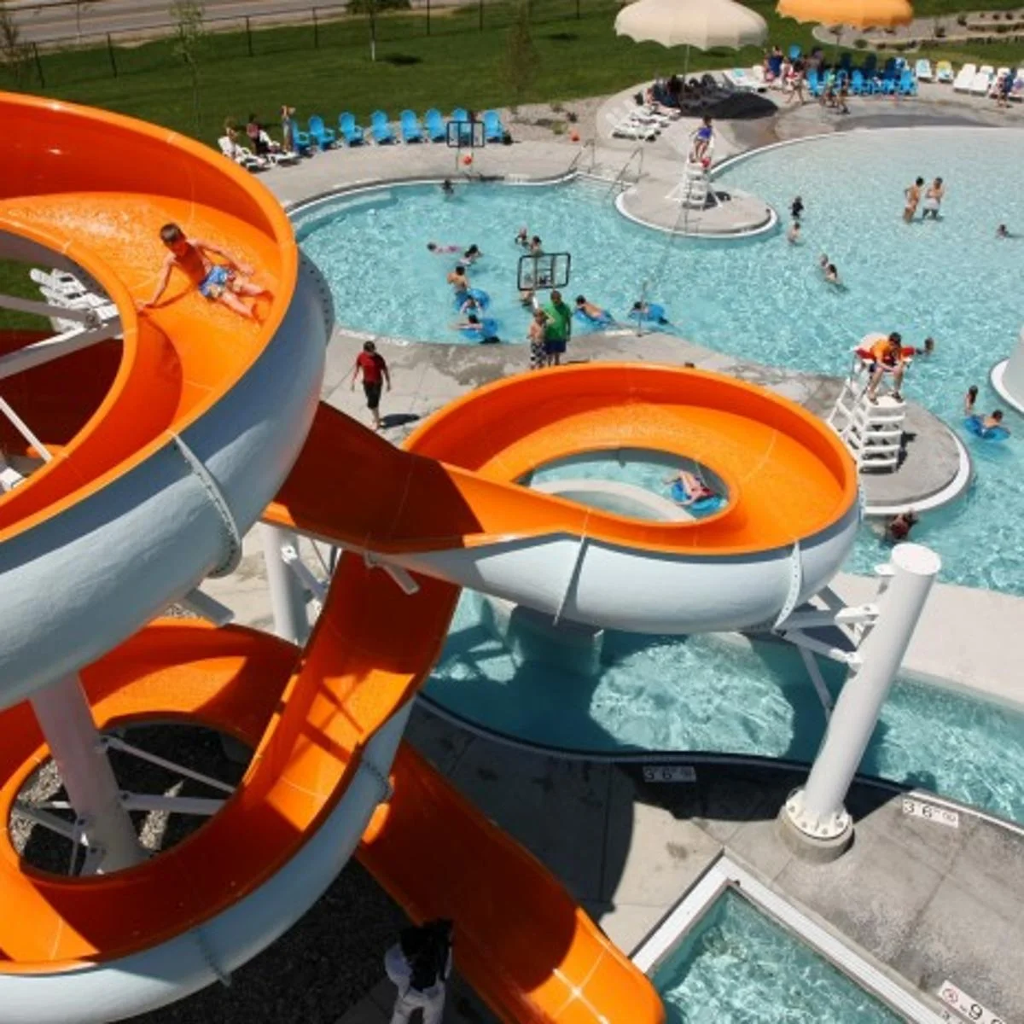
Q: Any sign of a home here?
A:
No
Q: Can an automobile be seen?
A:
No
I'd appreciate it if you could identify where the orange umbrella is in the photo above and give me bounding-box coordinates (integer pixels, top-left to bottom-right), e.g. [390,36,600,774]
[778,0,921,63]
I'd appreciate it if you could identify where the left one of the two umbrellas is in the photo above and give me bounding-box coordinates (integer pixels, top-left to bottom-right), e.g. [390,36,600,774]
[615,0,777,89]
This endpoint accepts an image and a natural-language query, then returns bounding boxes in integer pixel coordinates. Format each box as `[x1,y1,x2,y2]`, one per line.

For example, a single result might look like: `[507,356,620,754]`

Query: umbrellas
[778,0,921,63]
[615,0,777,89]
